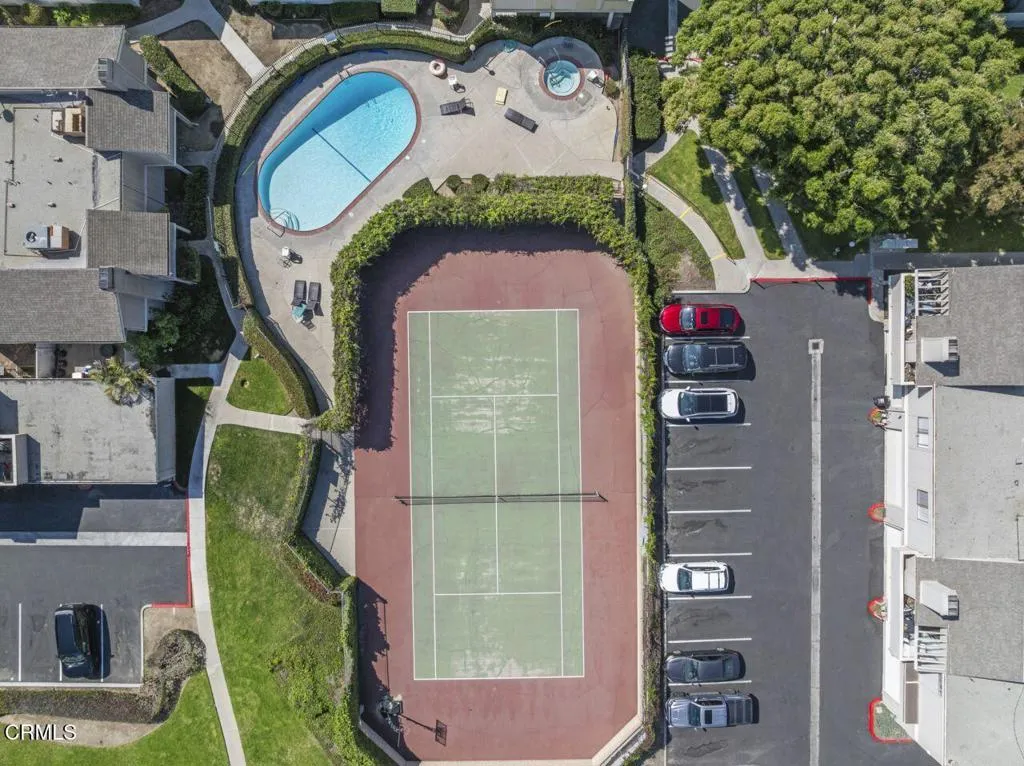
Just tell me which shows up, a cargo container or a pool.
pool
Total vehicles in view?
7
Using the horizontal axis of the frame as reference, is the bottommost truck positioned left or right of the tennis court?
right of it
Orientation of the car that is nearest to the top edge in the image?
horizontally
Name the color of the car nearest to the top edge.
red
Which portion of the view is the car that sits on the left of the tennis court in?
bottom left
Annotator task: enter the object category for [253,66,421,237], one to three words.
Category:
swimming pool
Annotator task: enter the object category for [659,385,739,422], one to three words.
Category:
car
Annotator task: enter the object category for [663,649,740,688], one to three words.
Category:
car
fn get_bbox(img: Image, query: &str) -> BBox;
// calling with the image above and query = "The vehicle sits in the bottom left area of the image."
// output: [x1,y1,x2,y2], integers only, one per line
[52,603,97,677]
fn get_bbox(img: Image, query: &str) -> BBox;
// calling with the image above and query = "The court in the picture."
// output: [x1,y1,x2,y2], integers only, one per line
[353,222,645,766]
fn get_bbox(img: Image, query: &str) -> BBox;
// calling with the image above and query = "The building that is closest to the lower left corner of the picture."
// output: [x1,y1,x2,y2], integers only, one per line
[0,378,177,497]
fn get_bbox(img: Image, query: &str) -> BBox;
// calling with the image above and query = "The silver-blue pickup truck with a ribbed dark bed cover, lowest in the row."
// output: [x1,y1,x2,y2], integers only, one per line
[665,690,751,732]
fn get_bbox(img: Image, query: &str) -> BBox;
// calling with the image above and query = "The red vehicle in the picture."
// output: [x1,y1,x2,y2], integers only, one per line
[657,300,741,337]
